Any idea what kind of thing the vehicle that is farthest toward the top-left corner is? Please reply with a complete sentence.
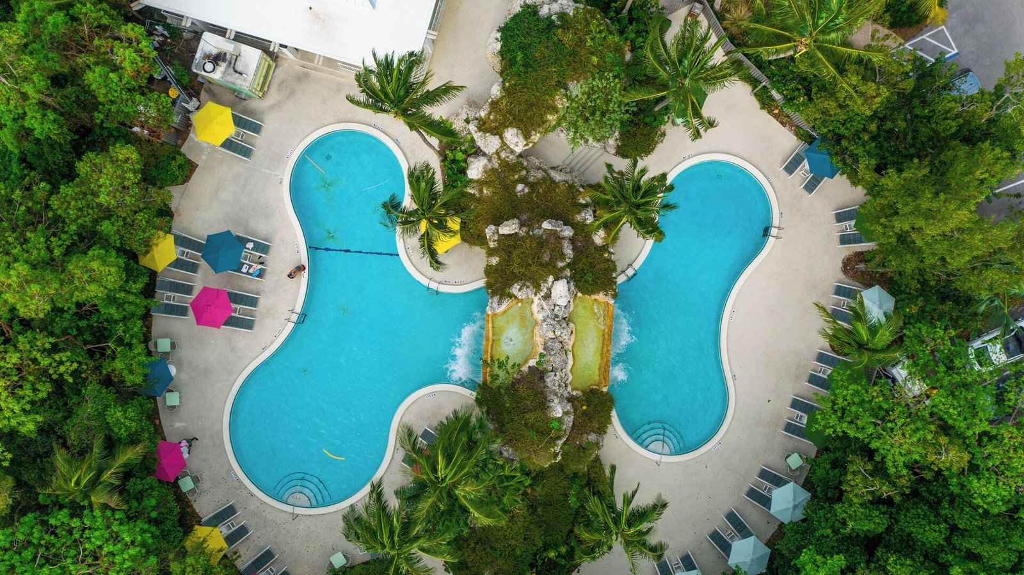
I'd say the vehicle that is farthest toward the top-left corner is a truck.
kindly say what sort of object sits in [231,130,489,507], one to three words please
swimming pool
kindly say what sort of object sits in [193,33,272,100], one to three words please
truck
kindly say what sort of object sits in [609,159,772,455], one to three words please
swimming pool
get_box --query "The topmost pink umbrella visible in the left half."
[190,286,234,328]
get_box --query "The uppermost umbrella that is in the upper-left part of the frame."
[192,102,236,145]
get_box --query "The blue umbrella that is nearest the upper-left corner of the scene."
[200,231,245,272]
